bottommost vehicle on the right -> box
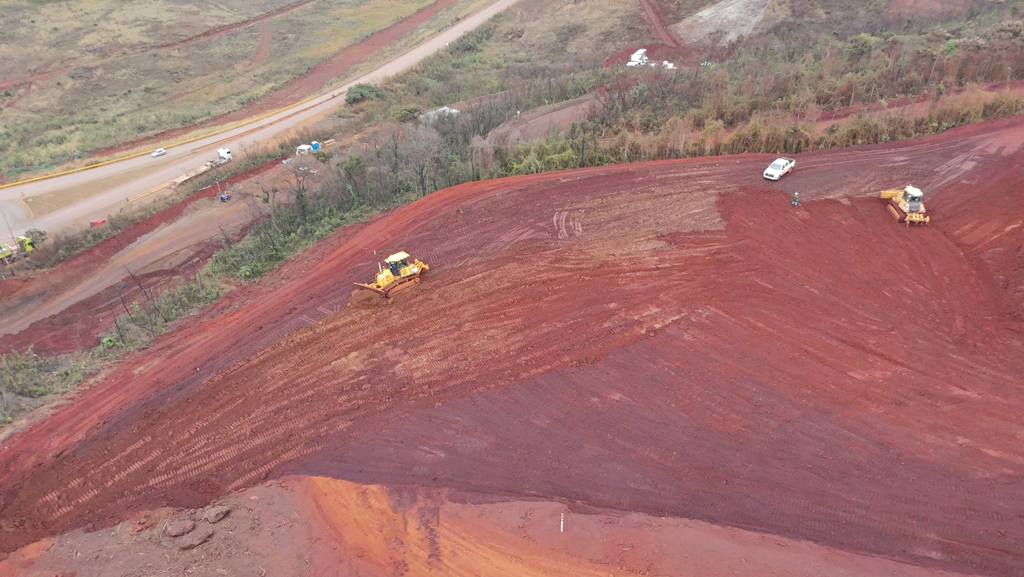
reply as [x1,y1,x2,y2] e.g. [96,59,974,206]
[880,184,926,223]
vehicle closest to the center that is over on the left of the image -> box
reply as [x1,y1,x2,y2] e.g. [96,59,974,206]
[361,252,433,310]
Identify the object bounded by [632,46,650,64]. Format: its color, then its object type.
white vehicle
